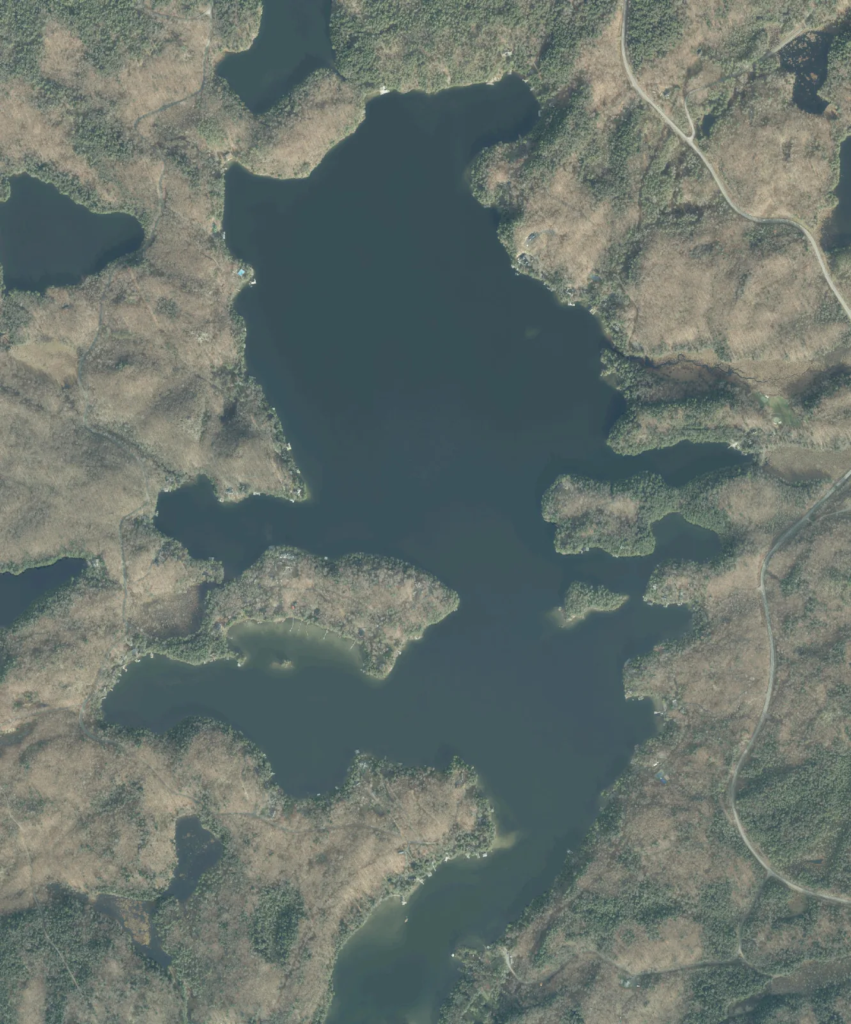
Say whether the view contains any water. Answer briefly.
Yes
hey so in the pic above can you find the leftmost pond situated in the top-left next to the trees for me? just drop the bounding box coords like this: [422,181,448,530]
[0,173,142,291]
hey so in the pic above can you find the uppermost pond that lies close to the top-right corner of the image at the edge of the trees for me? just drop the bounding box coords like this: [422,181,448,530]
[780,30,833,113]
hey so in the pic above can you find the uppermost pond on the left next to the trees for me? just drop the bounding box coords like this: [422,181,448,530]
[217,0,337,114]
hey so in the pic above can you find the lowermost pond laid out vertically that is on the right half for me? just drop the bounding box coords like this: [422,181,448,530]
[823,137,851,251]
